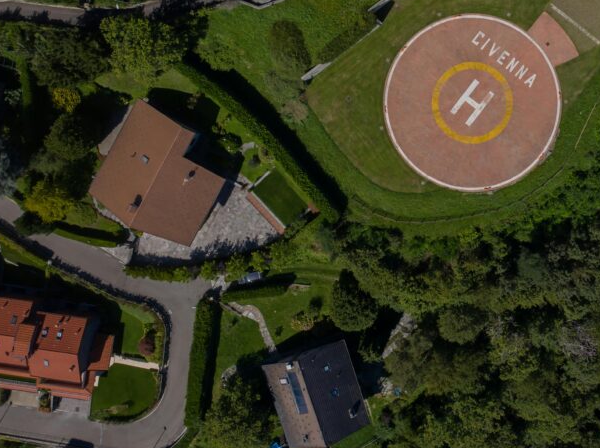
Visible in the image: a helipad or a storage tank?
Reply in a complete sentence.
The one in the frame is a helipad.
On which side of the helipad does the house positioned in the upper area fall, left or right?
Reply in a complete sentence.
Relative to the helipad, the house positioned in the upper area is on the left.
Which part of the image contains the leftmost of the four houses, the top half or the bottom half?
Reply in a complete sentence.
You can find the leftmost of the four houses in the bottom half.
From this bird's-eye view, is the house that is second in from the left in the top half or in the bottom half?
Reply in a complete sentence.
You can find the house that is second in from the left in the bottom half.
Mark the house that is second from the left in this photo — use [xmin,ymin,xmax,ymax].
[30,304,121,399]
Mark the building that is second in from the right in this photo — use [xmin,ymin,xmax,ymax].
[90,99,228,246]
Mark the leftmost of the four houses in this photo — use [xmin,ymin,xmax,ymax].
[0,288,54,393]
